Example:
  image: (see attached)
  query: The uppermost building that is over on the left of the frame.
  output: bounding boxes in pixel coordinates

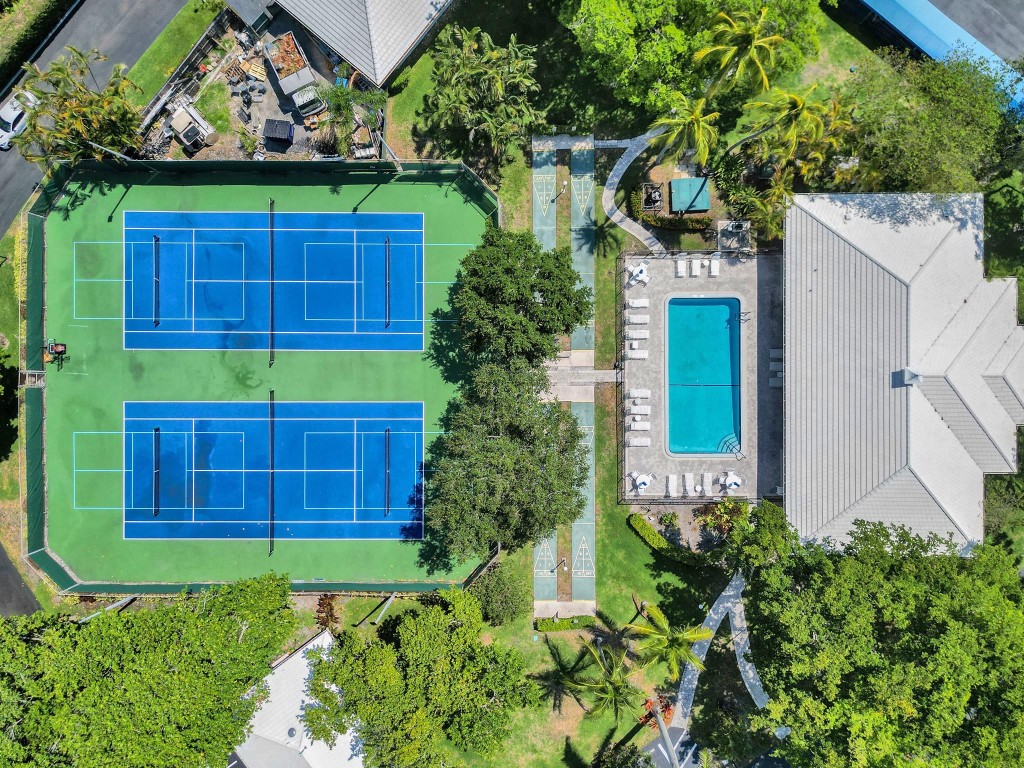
[276,0,461,90]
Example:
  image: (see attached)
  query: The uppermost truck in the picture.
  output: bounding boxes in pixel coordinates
[263,32,330,121]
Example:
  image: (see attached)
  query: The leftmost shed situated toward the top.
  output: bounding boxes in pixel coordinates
[262,117,298,149]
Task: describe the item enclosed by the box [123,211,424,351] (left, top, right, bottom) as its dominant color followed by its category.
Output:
blue tennis court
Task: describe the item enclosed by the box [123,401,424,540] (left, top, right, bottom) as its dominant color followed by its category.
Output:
blue tennis court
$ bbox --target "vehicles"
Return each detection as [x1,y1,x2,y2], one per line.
[263,32,330,121]
[0,91,49,152]
[166,101,219,154]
